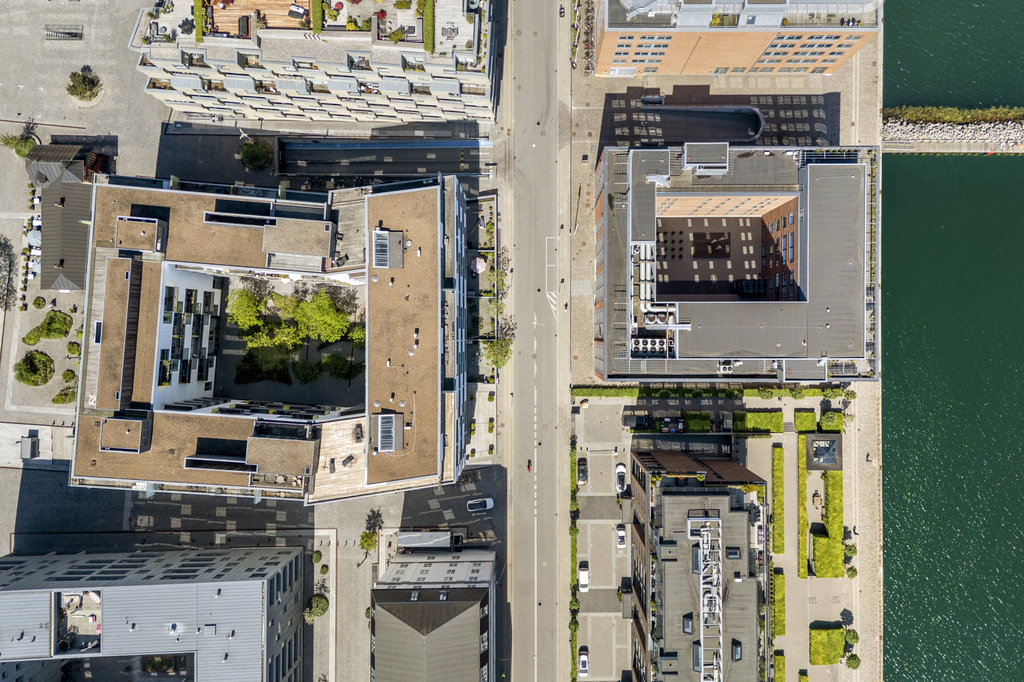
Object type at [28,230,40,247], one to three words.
umbrella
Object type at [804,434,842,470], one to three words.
building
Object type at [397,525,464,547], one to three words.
truck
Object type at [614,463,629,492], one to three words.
car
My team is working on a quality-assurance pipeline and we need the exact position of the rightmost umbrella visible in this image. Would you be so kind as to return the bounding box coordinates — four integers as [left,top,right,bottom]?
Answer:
[471,257,486,273]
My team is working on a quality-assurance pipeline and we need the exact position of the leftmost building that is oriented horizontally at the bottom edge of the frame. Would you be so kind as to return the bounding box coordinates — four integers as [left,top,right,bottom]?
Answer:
[0,547,303,682]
